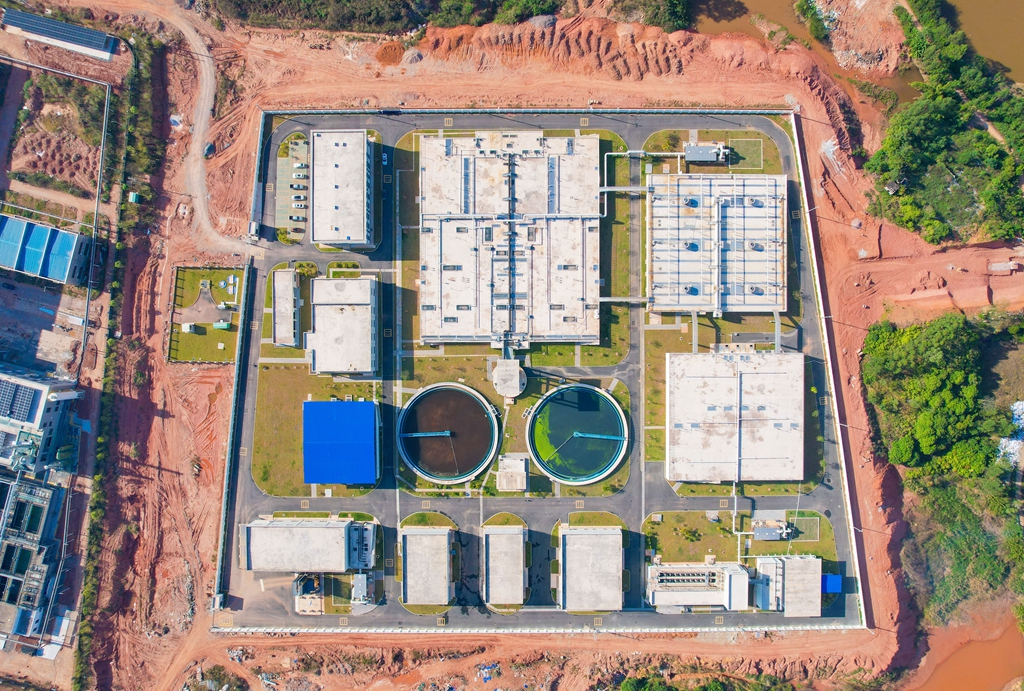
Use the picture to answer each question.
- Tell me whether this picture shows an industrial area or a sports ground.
industrial area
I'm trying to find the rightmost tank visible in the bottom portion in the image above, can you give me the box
[526,383,628,485]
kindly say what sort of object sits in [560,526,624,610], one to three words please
building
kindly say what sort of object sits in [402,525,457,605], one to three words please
building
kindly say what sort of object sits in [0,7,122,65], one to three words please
shed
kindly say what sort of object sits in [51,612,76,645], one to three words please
shed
